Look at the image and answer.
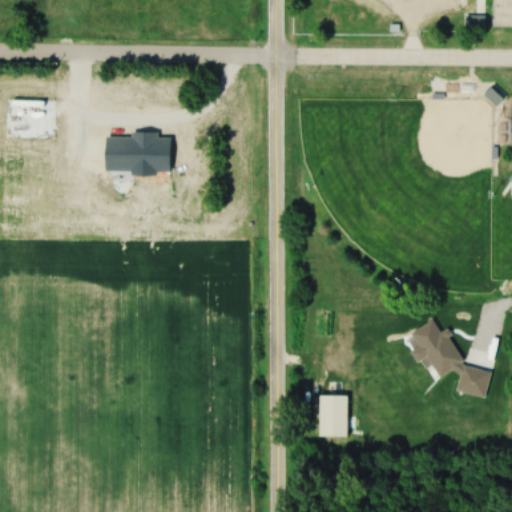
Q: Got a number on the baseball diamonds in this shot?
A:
1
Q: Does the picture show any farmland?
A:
Yes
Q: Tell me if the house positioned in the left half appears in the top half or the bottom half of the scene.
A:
top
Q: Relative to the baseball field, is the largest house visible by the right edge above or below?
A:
below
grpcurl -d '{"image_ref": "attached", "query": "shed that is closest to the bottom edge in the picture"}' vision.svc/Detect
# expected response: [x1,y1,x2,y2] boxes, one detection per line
[320,396,348,438]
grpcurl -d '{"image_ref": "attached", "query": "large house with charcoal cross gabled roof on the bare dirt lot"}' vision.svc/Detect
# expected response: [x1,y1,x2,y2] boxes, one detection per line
[105,132,172,183]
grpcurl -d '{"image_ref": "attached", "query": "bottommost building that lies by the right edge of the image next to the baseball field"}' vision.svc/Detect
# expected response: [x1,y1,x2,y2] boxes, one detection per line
[402,319,494,398]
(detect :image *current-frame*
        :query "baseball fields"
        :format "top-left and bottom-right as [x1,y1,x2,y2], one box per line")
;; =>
[300,98,495,292]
